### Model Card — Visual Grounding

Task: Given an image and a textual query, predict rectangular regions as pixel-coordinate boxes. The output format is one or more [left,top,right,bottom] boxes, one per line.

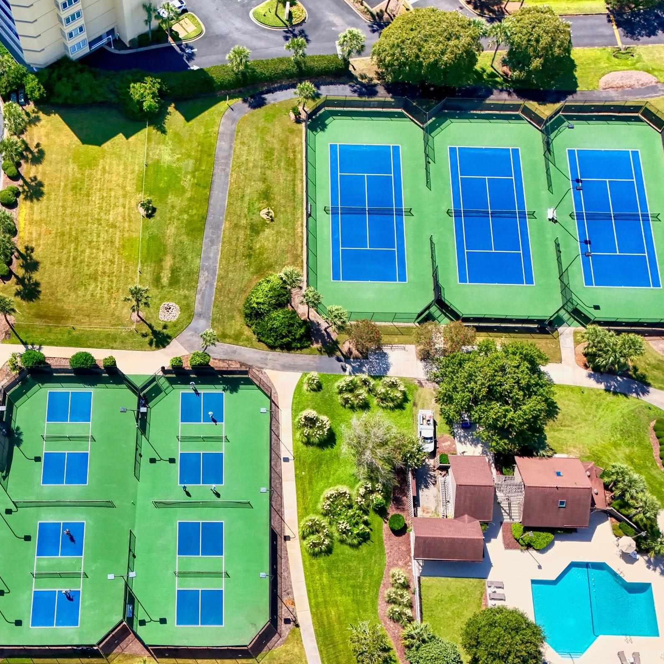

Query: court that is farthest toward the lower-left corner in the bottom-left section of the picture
[0,501,133,646]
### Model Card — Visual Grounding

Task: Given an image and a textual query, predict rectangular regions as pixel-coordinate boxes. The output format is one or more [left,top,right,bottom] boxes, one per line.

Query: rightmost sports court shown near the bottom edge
[123,501,270,647]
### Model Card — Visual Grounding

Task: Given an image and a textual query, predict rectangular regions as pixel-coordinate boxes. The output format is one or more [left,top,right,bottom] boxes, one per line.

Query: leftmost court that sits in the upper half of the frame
[307,109,438,323]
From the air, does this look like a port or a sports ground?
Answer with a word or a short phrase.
sports ground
